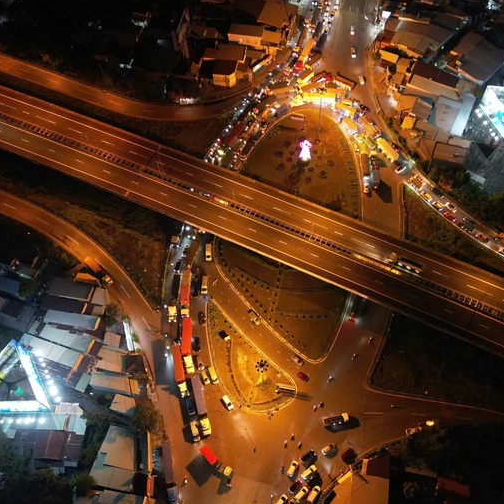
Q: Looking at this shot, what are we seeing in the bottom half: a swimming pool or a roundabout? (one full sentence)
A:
It is a roundabout that can be seen in the bottom half.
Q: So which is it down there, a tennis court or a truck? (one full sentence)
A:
There is a truck in the scene.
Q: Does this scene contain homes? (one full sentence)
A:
Yes, I can see a home in this picture.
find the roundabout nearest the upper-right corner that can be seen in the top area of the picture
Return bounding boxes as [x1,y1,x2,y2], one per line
[238,107,365,221]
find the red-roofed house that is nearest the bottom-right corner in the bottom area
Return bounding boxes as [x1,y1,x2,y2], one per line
[433,474,472,500]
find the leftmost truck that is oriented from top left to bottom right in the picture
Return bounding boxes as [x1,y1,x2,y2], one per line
[86,259,113,287]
